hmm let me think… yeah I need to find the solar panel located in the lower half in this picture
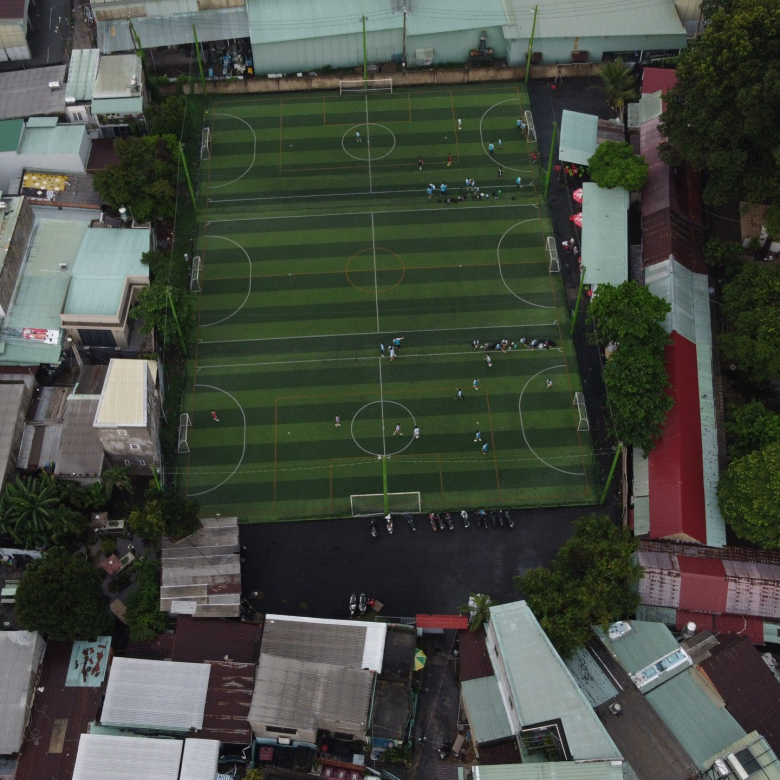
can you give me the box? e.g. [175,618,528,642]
[734,748,761,776]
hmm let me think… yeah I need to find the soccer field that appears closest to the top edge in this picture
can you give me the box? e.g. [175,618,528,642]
[193,80,544,212]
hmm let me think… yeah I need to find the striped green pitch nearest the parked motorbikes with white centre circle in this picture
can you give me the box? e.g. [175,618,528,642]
[169,335,599,520]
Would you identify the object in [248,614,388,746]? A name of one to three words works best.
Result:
house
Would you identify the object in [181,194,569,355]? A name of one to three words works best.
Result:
soccer field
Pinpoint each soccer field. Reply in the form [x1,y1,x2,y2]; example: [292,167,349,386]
[169,335,599,520]
[181,194,569,355]
[187,88,587,513]
[193,80,544,212]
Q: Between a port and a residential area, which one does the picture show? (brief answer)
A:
residential area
